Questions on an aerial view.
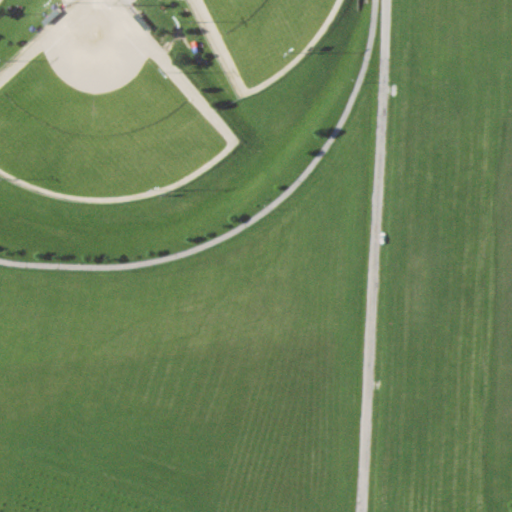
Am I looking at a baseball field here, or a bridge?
baseball field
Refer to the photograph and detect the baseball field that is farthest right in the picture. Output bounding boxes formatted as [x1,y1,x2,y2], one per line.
[187,0,344,99]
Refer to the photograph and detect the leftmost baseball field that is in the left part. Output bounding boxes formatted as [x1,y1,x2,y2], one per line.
[0,0,239,203]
